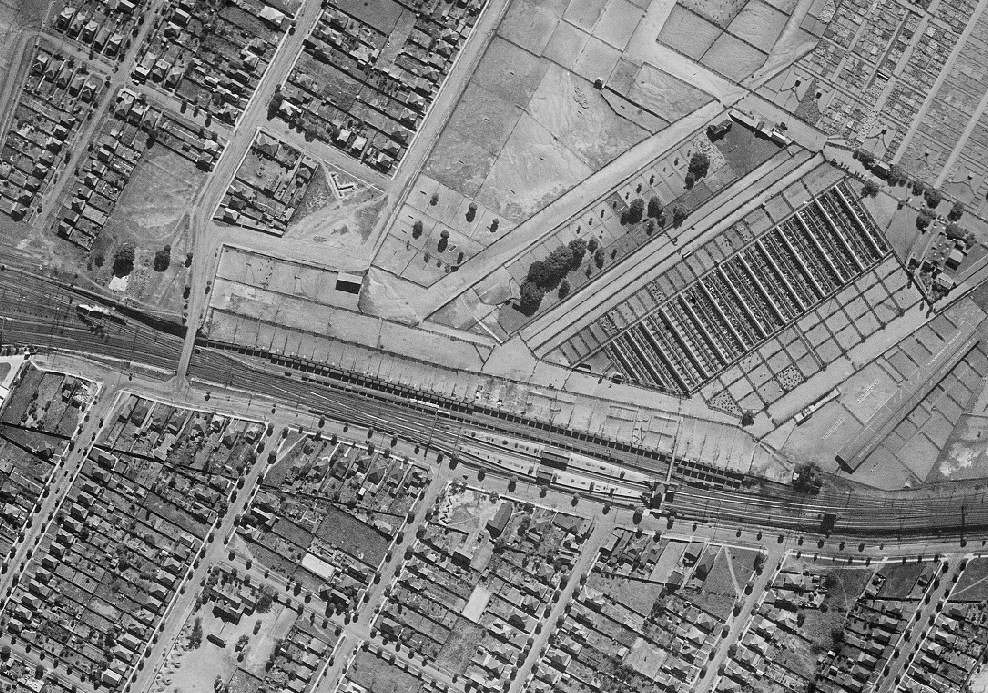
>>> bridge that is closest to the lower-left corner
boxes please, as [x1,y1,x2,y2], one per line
[175,319,195,386]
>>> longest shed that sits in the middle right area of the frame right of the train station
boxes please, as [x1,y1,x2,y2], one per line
[832,328,976,464]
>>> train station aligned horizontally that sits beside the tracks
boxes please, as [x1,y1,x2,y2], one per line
[458,430,652,498]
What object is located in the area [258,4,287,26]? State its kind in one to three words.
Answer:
house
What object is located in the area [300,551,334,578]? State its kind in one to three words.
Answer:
building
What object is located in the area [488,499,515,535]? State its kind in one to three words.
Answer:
building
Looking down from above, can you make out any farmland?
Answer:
Yes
